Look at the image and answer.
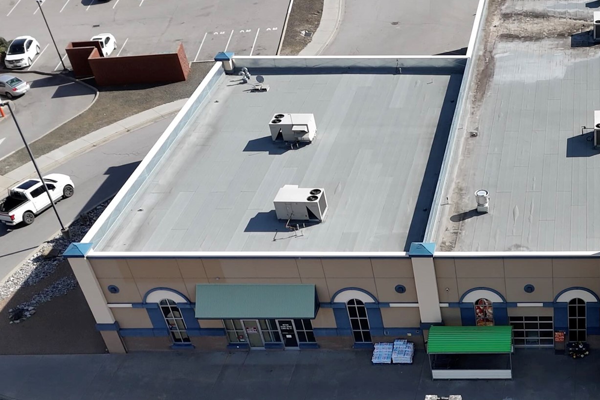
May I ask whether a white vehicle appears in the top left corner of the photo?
Yes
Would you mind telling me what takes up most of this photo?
buildings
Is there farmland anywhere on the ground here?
No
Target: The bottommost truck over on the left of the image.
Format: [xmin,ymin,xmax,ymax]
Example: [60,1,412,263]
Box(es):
[0,175,69,227]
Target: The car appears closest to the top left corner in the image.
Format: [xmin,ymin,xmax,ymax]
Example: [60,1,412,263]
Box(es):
[7,35,41,63]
